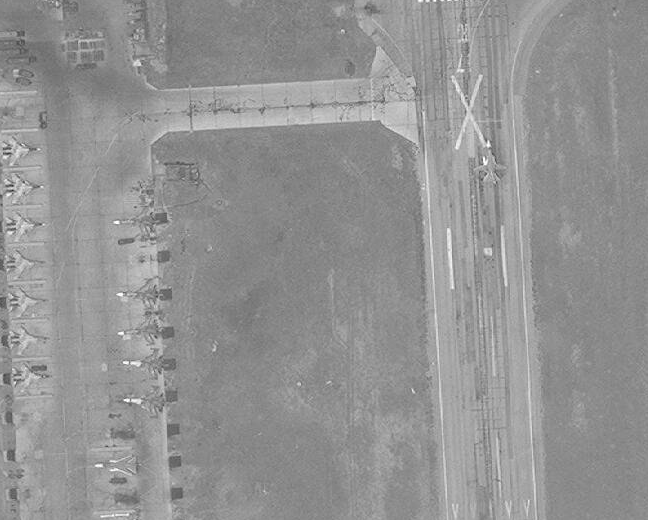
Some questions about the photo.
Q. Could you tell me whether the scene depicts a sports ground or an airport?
airport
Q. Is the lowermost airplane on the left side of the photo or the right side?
left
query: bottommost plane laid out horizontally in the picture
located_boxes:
[96,454,138,475]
